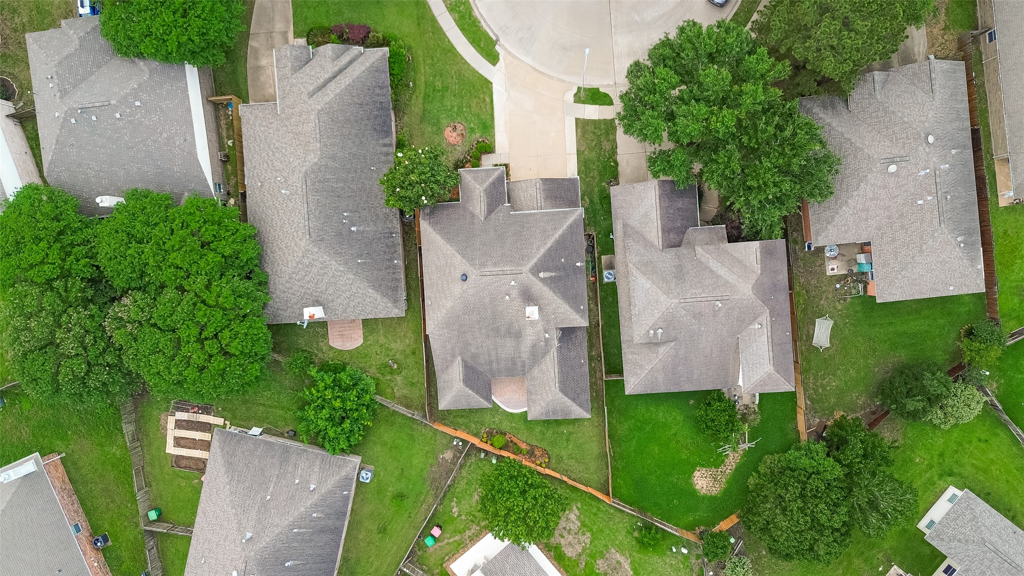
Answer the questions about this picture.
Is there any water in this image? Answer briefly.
No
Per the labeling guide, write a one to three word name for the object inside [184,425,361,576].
house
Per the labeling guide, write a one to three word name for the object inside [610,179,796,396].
house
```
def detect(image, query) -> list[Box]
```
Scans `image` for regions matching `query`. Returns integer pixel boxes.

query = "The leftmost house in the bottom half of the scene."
[0,449,116,576]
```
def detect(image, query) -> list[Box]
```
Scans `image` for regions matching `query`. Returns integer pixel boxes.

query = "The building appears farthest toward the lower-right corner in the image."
[906,484,1024,576]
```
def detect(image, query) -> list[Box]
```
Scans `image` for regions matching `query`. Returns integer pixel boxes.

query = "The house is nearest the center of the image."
[419,165,592,421]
